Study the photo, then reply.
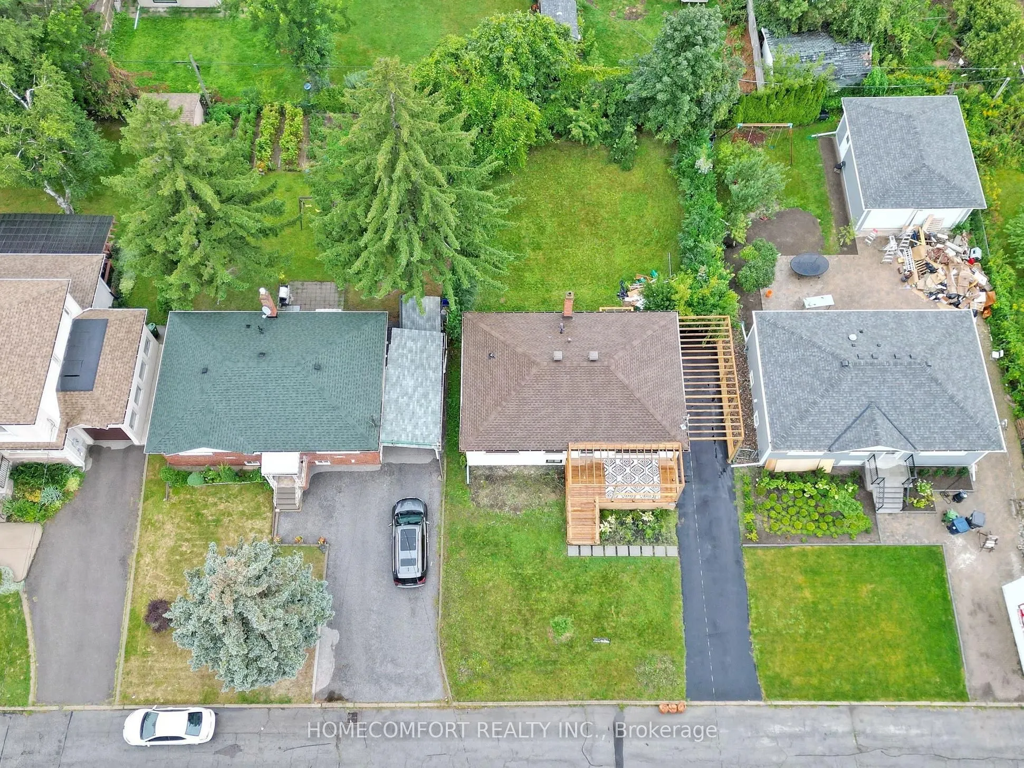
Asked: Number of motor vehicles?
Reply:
two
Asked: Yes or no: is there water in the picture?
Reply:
No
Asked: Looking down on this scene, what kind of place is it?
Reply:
residential area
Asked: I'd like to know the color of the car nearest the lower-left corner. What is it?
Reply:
white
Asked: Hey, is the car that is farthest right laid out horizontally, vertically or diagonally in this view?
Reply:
vertically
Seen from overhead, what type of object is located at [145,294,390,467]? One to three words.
house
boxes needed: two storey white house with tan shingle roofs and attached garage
[0,252,159,472]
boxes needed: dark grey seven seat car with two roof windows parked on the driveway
[389,498,433,587]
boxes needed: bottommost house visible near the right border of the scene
[734,310,1012,482]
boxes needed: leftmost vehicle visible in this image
[122,704,218,753]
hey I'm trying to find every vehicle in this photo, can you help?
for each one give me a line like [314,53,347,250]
[122,704,218,753]
[389,498,433,587]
